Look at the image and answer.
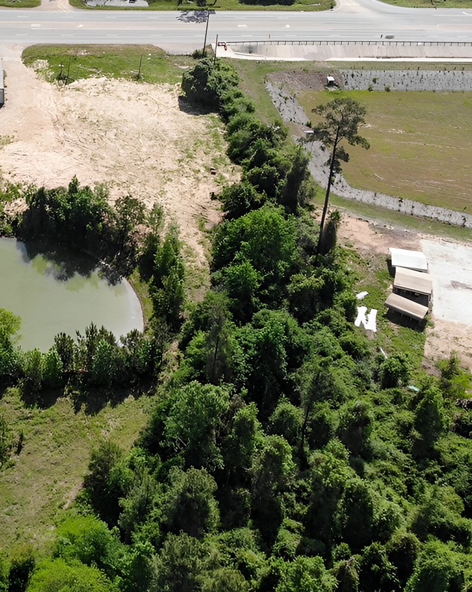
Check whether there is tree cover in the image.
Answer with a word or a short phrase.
Yes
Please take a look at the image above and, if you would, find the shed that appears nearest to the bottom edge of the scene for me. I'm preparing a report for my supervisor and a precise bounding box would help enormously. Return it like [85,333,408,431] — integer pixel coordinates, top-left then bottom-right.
[383,293,428,330]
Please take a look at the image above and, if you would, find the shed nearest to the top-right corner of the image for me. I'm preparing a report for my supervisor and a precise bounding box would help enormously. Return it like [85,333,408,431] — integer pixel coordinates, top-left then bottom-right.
[386,248,427,277]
